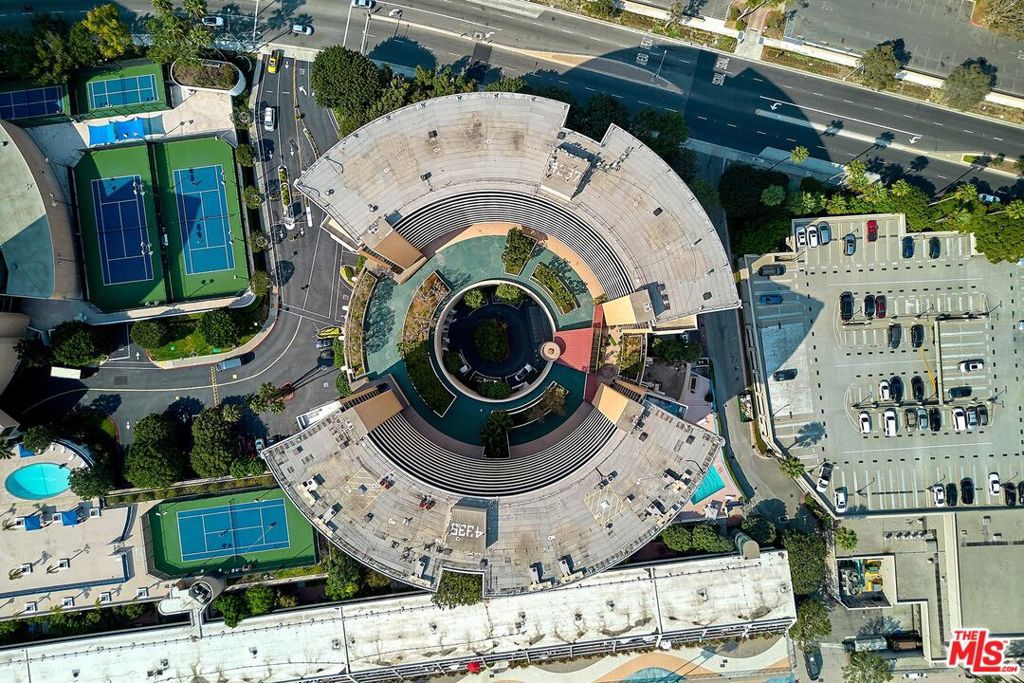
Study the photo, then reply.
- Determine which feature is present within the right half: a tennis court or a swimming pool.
swimming pool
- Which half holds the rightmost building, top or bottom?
bottom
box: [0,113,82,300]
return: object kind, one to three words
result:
building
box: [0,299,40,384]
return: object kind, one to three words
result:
building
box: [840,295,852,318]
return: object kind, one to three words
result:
vehicle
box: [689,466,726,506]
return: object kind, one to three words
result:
swimming pool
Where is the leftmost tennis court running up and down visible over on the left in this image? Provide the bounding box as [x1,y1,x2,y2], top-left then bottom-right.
[74,146,161,311]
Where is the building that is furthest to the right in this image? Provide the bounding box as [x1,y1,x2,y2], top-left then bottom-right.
[827,509,1024,661]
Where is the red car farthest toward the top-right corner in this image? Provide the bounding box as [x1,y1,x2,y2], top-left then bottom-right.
[865,218,878,244]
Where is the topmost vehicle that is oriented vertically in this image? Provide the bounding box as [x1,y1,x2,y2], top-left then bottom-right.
[266,49,279,78]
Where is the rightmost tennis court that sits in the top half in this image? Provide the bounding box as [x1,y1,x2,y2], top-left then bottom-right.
[155,136,245,302]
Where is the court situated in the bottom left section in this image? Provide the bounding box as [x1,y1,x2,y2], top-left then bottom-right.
[148,489,315,579]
